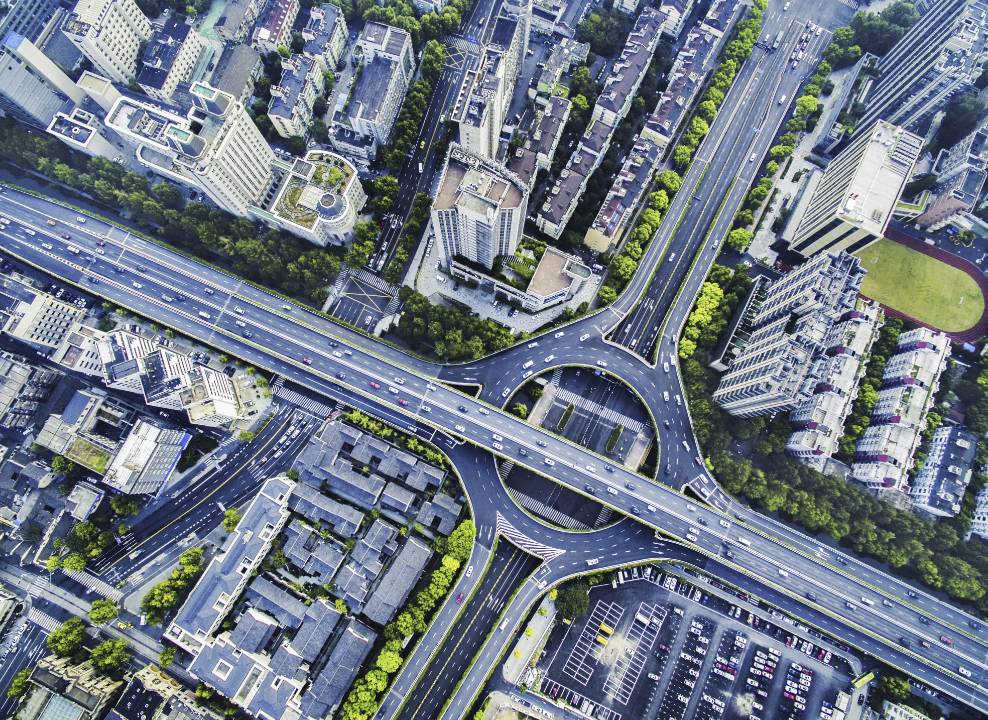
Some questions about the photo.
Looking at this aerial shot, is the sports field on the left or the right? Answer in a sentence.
The sports field appears in the right half of the scene.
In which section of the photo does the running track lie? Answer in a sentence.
The running track is located in the right region of the scene.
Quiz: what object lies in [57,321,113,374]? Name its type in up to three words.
building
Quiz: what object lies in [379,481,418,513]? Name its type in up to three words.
house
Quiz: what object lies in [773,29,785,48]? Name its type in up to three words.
vehicle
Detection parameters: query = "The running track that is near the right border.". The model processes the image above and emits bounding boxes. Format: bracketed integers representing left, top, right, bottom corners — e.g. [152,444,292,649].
[855,228,988,346]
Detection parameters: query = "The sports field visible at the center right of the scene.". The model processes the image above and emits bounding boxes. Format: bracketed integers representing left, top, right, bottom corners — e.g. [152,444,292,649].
[855,228,988,346]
